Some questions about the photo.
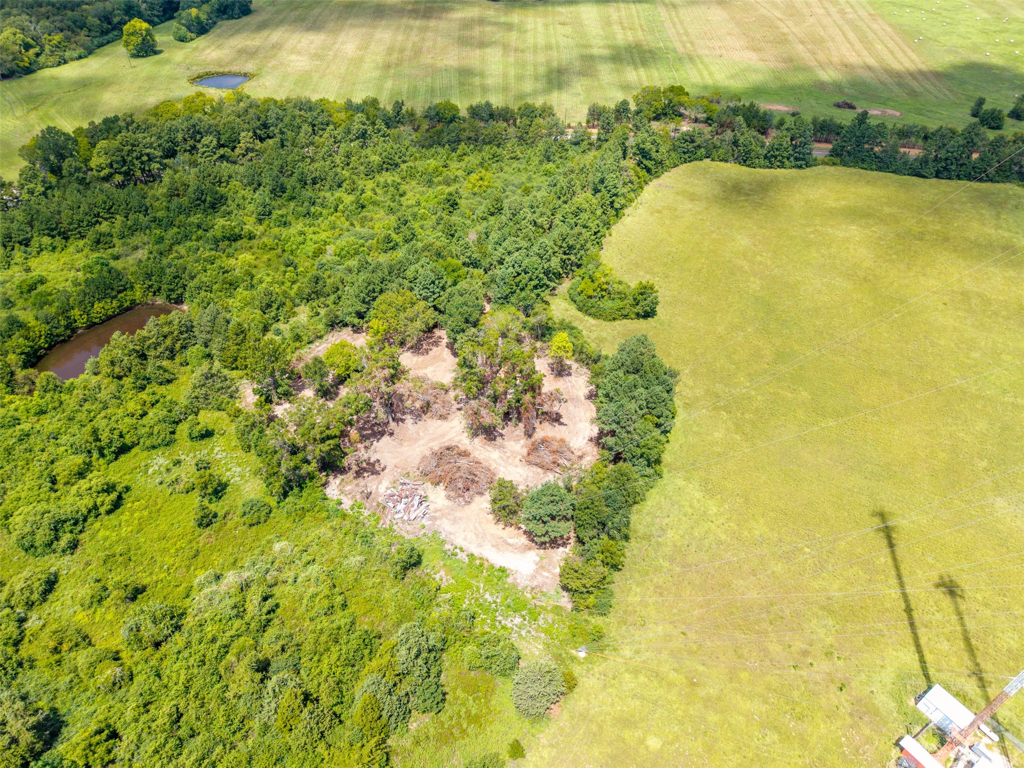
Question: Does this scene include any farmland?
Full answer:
Yes, the picture does contain farmland.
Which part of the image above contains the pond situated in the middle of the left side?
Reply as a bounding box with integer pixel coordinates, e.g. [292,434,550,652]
[22,304,185,399]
